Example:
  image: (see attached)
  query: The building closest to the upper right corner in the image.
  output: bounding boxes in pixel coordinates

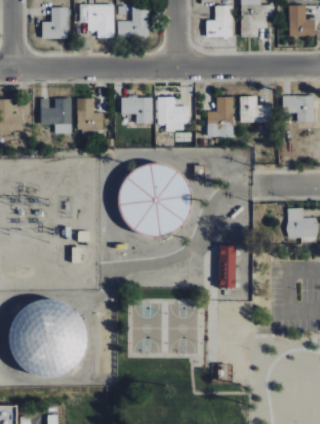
[288,4,314,36]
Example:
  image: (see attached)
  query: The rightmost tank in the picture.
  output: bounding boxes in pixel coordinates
[118,162,192,240]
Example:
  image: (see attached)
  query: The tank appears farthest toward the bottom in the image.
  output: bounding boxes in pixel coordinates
[8,299,87,378]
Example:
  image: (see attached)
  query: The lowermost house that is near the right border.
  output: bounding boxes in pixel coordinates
[287,208,318,242]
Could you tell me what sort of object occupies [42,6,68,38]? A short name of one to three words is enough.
house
